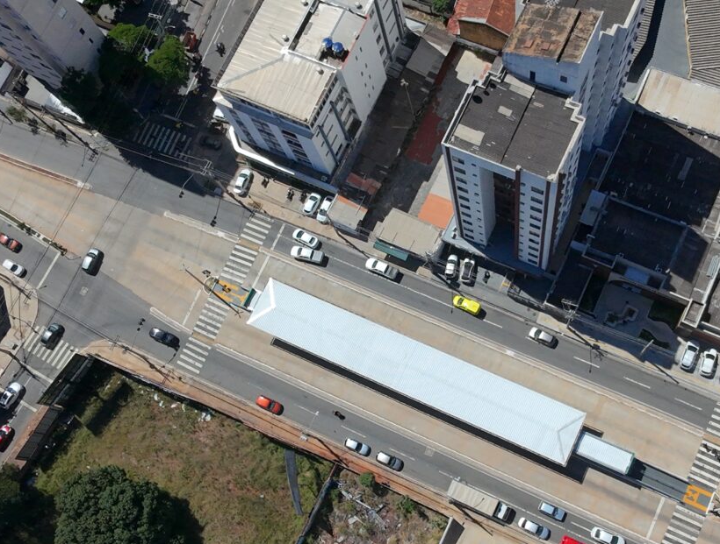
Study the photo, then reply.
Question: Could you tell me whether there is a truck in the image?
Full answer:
Yes, the picture does show a truck.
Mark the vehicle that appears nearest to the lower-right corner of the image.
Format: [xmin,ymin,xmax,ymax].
[589,527,626,544]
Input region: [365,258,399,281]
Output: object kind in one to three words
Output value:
truck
